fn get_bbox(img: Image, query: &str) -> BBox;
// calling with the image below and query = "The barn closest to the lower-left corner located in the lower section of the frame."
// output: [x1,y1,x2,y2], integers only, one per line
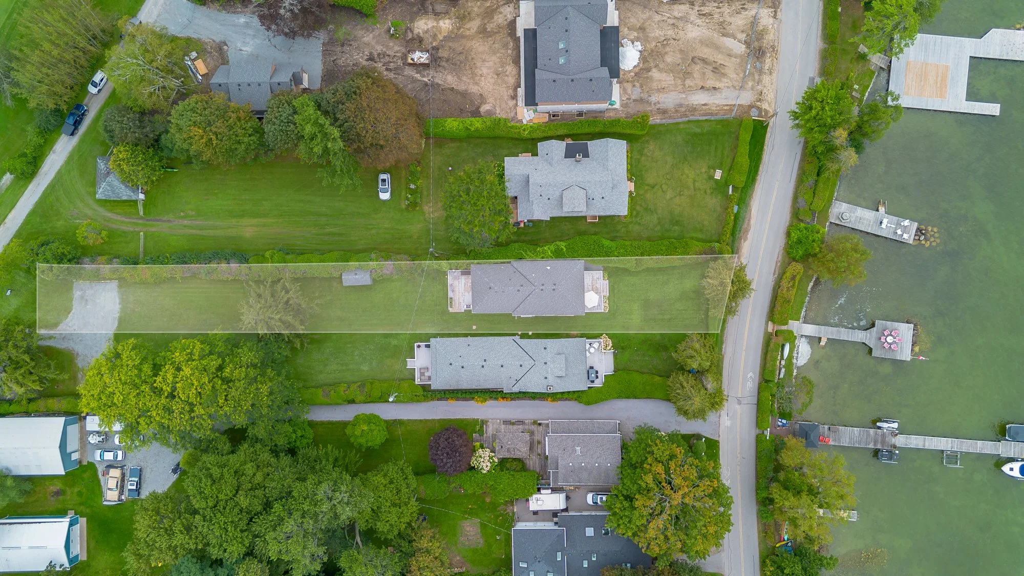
[0,513,80,571]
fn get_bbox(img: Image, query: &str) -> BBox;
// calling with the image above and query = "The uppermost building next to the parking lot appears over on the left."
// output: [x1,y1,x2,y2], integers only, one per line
[0,413,78,475]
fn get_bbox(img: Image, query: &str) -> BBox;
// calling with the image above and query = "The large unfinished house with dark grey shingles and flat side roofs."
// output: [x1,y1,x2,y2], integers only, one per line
[517,0,620,119]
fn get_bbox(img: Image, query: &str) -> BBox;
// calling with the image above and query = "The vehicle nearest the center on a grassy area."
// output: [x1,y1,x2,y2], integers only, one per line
[378,173,392,200]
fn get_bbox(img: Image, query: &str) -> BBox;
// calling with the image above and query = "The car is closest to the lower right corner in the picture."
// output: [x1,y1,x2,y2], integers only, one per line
[586,491,614,505]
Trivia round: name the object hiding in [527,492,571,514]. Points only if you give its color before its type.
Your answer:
white vehicle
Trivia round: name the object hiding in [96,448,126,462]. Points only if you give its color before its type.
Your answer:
white car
